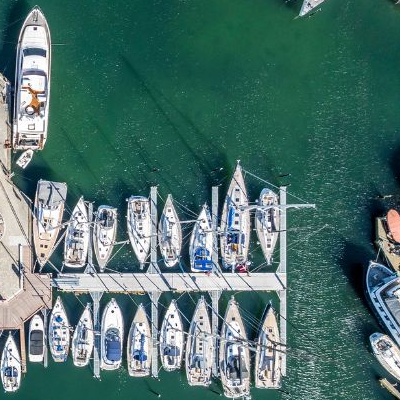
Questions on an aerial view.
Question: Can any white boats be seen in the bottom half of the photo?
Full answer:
Yes, there is a white boat in the bottom half of the photo.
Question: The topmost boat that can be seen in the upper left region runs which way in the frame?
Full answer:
I'd say the topmost boat that can be seen in the upper left region is aligned from top to bottom in the picture.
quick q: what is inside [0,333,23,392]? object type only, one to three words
boat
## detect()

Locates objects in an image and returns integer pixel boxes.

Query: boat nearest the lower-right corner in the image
[367,333,400,380]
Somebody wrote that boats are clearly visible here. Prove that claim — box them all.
[185,291,250,387]
[14,4,53,154]
[125,196,169,274]
[255,189,291,274]
[218,291,295,398]
[15,149,35,167]
[158,291,211,370]
[367,333,400,380]
[157,192,206,270]
[64,195,105,273]
[32,179,68,272]
[255,293,320,389]
[0,333,23,392]
[72,293,109,368]
[219,159,310,280]
[47,291,79,363]
[298,0,321,15]
[26,318,45,362]
[97,292,124,372]
[92,202,124,274]
[126,293,173,383]
[188,203,241,276]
